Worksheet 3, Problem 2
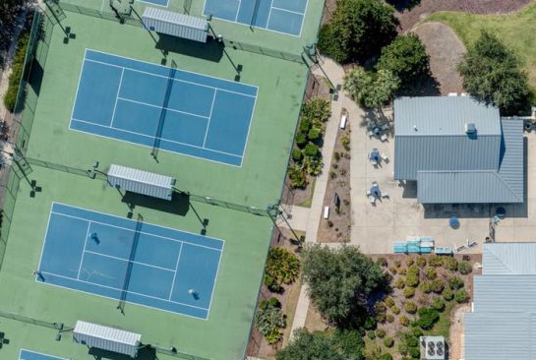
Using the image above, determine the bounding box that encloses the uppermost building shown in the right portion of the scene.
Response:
[394,97,523,203]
